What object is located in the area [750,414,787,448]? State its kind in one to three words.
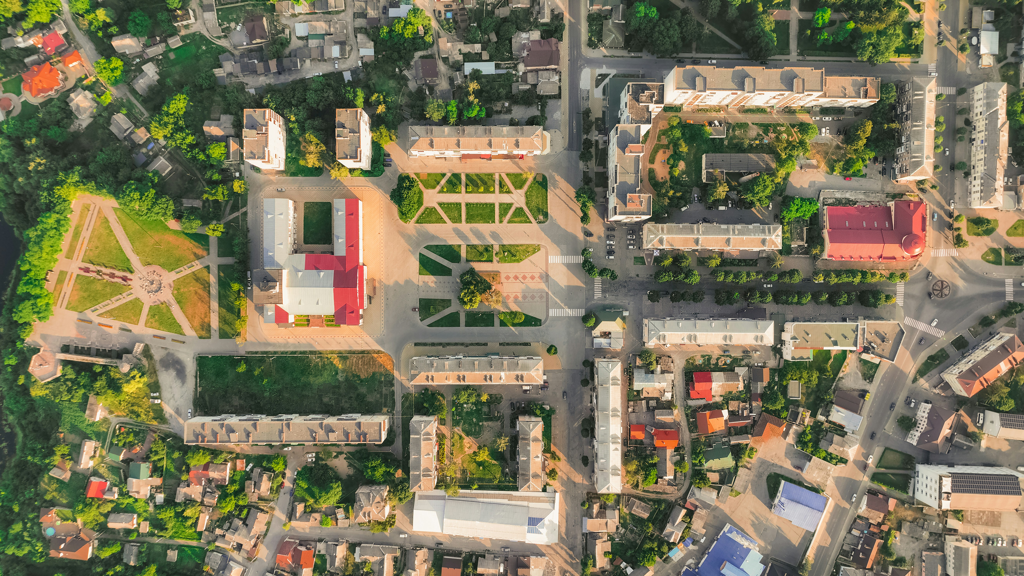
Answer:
house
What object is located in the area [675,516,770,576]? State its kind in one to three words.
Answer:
building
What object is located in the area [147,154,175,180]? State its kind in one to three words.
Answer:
shed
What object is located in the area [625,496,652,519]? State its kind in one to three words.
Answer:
house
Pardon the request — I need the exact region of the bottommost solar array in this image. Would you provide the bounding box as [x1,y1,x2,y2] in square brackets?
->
[950,474,1020,495]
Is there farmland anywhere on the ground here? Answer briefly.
No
